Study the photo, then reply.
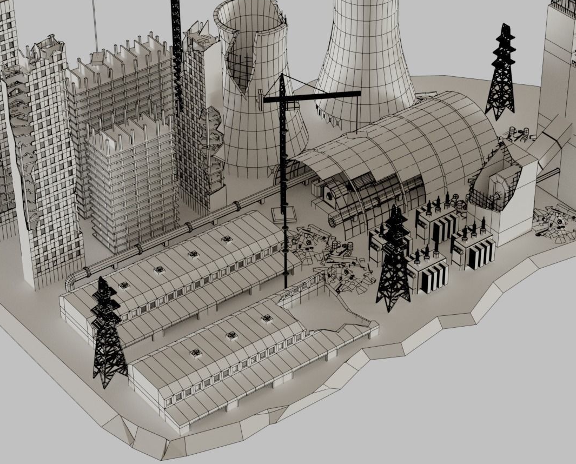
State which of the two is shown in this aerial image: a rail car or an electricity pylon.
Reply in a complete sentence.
Of the two, only an electricity pylon appears.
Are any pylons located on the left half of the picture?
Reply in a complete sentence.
Yes, a pylon is visible on the left half of the picture.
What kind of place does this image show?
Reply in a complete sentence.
What you see here is an industrial area.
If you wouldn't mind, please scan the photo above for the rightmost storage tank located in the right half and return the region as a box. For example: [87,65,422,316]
[453,226,493,269]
